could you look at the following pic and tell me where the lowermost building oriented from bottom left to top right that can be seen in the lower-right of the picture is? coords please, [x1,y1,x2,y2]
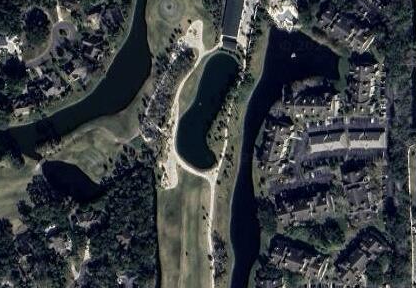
[335,239,392,288]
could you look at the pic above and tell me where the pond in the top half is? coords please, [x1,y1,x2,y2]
[177,51,237,168]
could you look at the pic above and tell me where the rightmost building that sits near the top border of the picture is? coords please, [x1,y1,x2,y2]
[316,4,377,56]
